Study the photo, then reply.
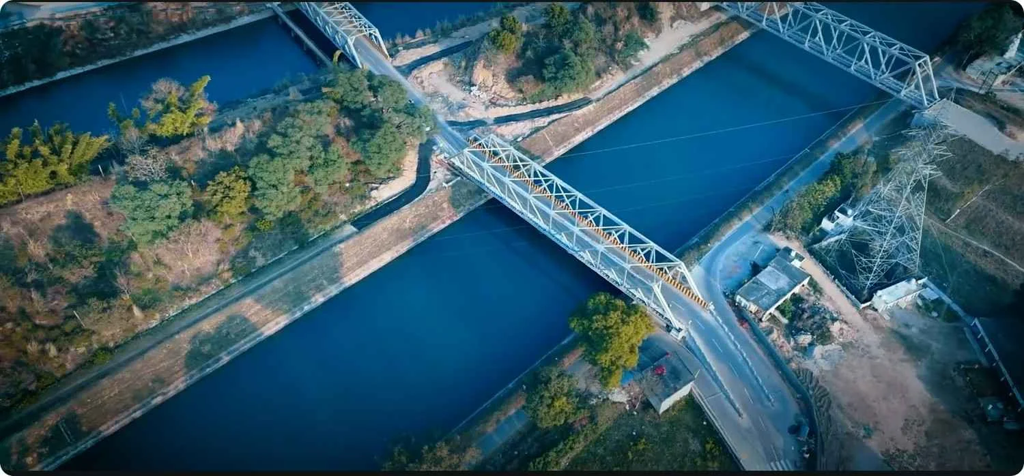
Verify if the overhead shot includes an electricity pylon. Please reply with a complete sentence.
Yes, the frame does contain an electricity pylon.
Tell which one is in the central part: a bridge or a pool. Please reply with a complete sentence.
It is a bridge that can be seen in the central part.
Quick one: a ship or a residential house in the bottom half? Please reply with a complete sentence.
What appears in the bottom half is a residential house.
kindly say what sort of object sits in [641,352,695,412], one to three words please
house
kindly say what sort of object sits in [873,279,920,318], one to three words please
house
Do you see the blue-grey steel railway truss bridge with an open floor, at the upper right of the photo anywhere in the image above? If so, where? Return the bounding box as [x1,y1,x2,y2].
[723,0,941,107]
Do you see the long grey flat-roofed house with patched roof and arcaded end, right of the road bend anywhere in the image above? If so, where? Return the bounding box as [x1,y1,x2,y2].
[735,258,810,323]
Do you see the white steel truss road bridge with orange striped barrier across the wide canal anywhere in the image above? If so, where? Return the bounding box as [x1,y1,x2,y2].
[442,134,714,332]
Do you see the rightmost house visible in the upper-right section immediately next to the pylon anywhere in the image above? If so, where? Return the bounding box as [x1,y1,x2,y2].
[964,57,1021,90]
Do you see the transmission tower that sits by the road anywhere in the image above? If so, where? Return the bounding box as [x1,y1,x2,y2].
[813,91,965,296]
